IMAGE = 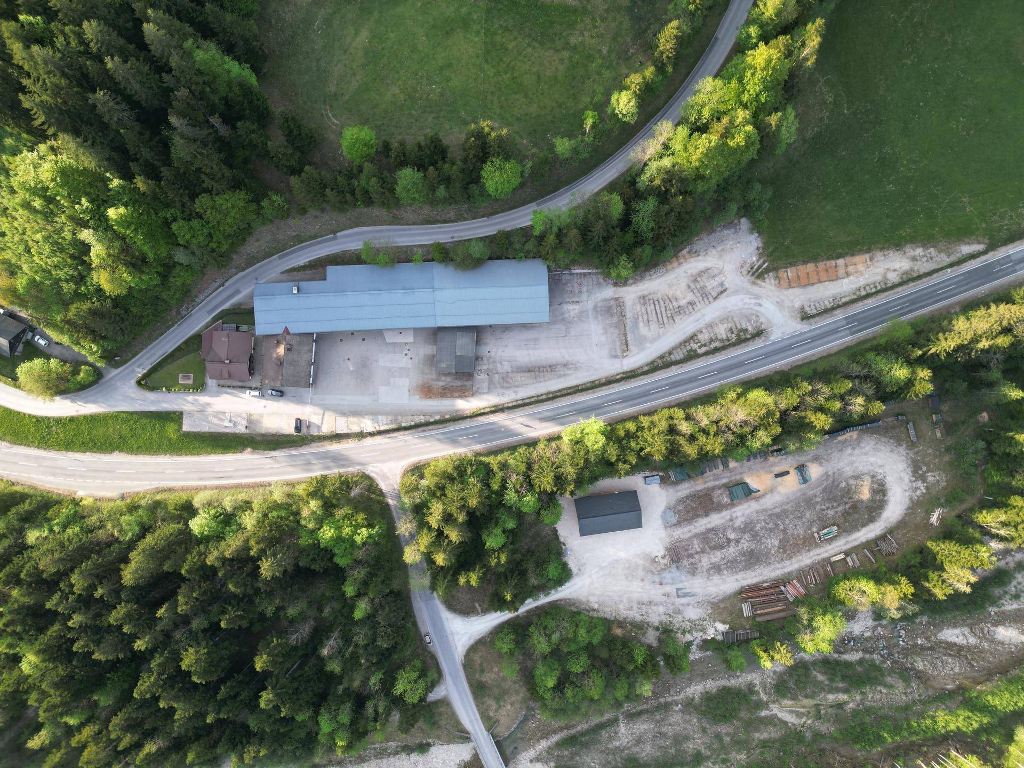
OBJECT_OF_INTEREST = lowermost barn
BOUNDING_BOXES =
[574,490,642,536]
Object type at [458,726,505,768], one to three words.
bridge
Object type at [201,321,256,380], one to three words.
house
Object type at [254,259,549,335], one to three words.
building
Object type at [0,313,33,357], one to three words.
house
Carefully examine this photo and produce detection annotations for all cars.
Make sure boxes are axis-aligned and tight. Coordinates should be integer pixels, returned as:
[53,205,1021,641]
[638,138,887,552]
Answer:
[423,632,433,646]
[245,390,261,396]
[293,418,301,433]
[268,389,282,396]
[33,335,48,346]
